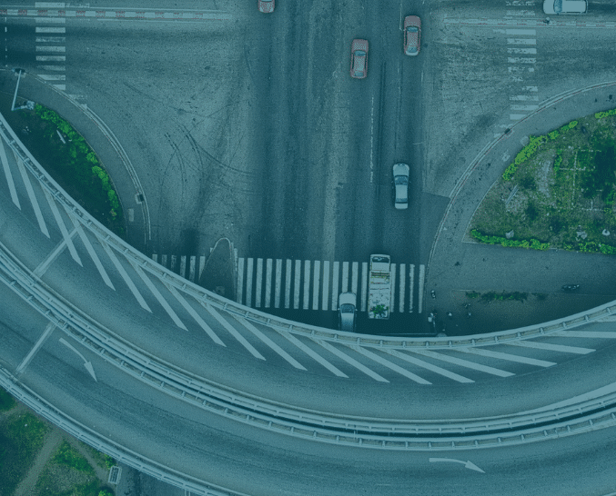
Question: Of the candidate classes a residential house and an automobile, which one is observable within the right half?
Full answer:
Looking within the right half, you will find an automobile.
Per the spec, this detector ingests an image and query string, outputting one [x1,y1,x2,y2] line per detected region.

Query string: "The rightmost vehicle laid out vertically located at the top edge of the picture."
[403,15,423,56]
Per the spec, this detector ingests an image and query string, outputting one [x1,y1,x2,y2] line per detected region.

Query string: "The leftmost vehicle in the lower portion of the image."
[338,297,357,331]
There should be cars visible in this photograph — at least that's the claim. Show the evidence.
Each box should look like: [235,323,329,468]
[403,15,423,56]
[544,0,588,16]
[391,165,413,209]
[349,39,369,79]
[259,0,275,14]
[338,297,357,331]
